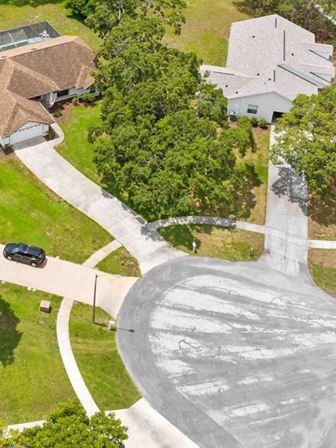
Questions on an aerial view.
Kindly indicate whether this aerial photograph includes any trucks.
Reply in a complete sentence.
No, this view has no truck in it.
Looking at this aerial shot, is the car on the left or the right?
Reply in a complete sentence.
The car appears in the left half of the scene.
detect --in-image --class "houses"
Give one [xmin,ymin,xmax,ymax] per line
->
[0,35,107,152]
[201,14,336,123]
